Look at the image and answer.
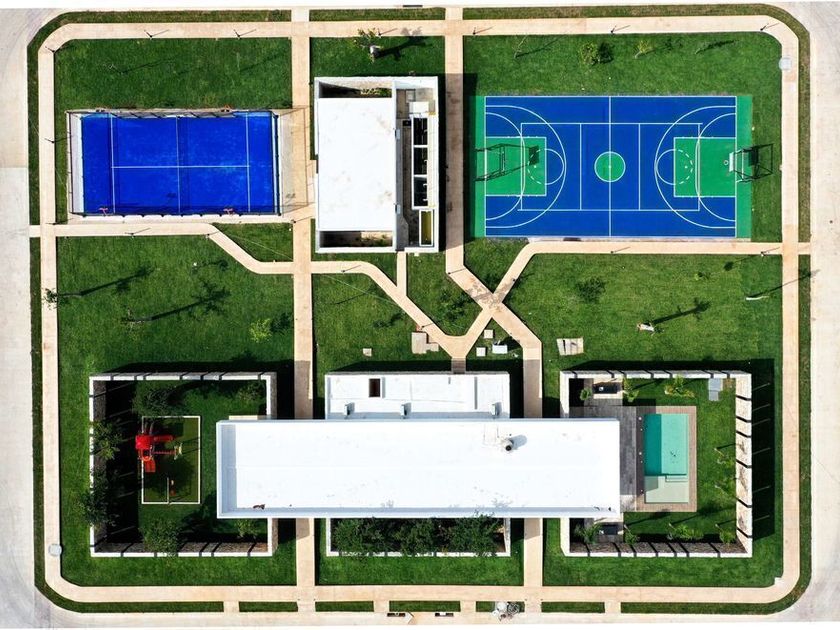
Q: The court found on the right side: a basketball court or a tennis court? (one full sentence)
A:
From above, the court found on the right side can be identified as a basketball court.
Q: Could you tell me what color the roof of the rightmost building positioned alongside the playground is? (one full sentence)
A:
From above, the roof of the rightmost building positioned alongside the playground looks white.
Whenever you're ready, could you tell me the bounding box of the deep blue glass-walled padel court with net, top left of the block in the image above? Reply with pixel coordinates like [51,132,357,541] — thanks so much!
[66,110,281,222]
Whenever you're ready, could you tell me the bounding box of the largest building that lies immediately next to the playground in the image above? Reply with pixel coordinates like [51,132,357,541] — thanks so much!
[217,372,620,518]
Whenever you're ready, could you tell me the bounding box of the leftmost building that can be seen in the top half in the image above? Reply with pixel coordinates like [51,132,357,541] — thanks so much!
[315,77,438,253]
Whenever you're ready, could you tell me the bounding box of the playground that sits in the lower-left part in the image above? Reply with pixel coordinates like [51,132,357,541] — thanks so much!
[140,416,201,505]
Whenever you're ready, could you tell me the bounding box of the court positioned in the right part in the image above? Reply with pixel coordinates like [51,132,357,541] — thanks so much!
[474,96,751,237]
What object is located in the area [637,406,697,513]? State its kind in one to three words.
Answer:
swimming pool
